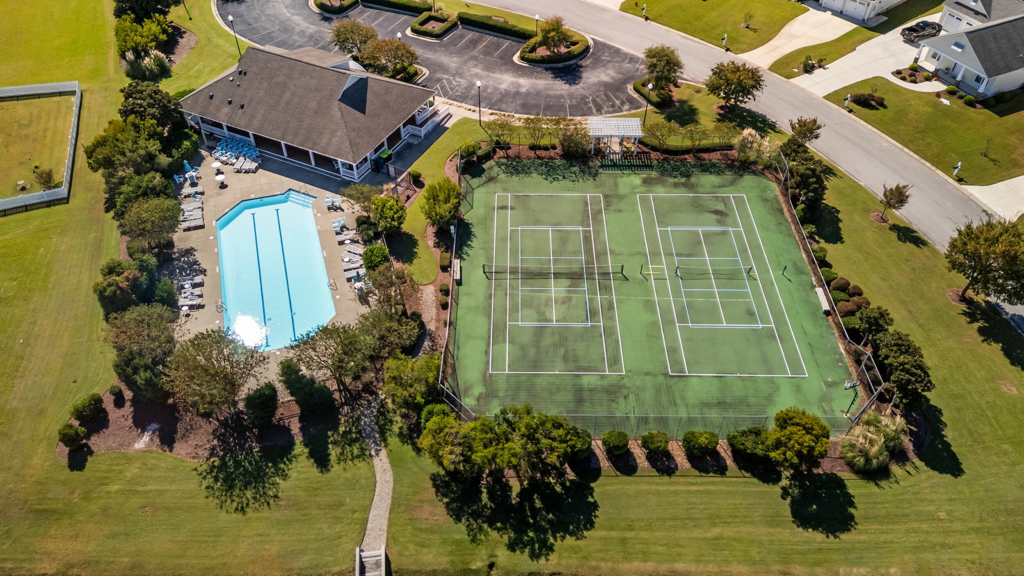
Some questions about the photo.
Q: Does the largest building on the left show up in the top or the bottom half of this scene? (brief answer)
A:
top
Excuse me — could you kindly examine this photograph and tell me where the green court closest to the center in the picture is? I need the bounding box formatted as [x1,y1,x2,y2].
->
[489,194,625,374]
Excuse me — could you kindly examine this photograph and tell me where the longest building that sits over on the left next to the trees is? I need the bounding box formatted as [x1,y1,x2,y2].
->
[180,45,453,185]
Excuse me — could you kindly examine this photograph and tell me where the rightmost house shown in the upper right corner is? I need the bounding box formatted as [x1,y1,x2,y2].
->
[912,0,1024,99]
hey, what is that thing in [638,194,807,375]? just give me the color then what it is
green tennis court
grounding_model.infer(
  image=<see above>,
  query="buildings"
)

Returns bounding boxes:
[180,45,453,185]
[912,0,1024,99]
[808,0,904,22]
